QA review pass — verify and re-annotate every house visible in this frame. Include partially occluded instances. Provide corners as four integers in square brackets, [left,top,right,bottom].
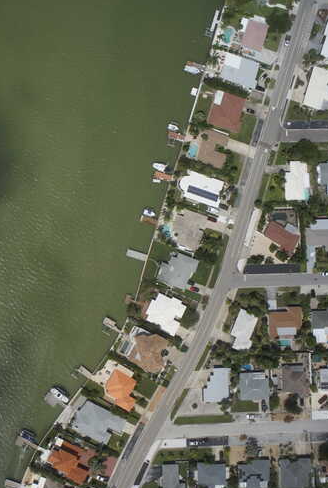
[172,208,208,251]
[207,90,247,133]
[48,443,91,485]
[300,66,328,111]
[158,462,187,488]
[196,130,229,167]
[315,163,328,193]
[157,253,199,287]
[218,54,259,88]
[315,362,328,393]
[236,458,270,488]
[196,462,226,488]
[262,221,300,253]
[319,21,328,61]
[177,170,223,207]
[308,310,328,343]
[145,294,188,335]
[237,371,270,400]
[73,400,127,441]
[266,306,302,336]
[127,334,170,372]
[303,219,328,251]
[106,369,136,411]
[202,367,231,402]
[276,456,311,488]
[281,161,311,199]
[229,309,257,349]
[239,15,268,53]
